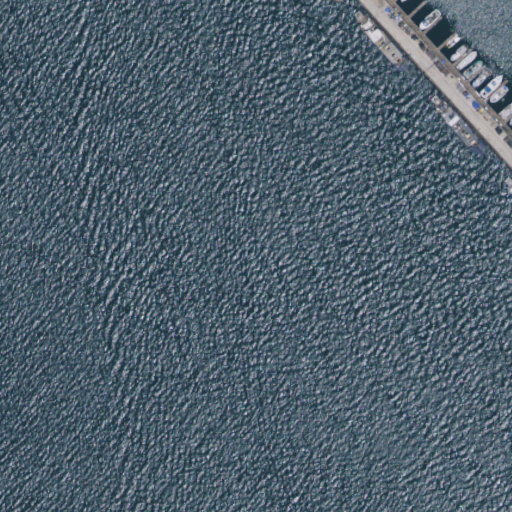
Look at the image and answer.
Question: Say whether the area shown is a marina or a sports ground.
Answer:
marina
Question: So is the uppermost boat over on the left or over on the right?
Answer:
right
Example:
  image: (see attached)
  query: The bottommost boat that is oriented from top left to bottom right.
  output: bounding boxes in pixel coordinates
[432,96,480,148]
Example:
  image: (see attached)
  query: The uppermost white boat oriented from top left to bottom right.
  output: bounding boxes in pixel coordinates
[356,12,404,65]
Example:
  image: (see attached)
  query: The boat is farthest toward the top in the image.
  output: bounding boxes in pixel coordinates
[419,8,440,28]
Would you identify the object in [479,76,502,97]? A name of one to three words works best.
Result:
boat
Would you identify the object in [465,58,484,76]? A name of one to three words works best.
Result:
boat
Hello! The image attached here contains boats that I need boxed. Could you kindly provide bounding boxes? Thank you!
[456,48,480,69]
[432,96,480,148]
[465,58,484,76]
[472,68,492,88]
[449,44,468,60]
[356,12,404,65]
[479,76,502,97]
[490,86,510,105]
[419,8,440,28]
[446,34,462,50]
[498,98,512,116]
